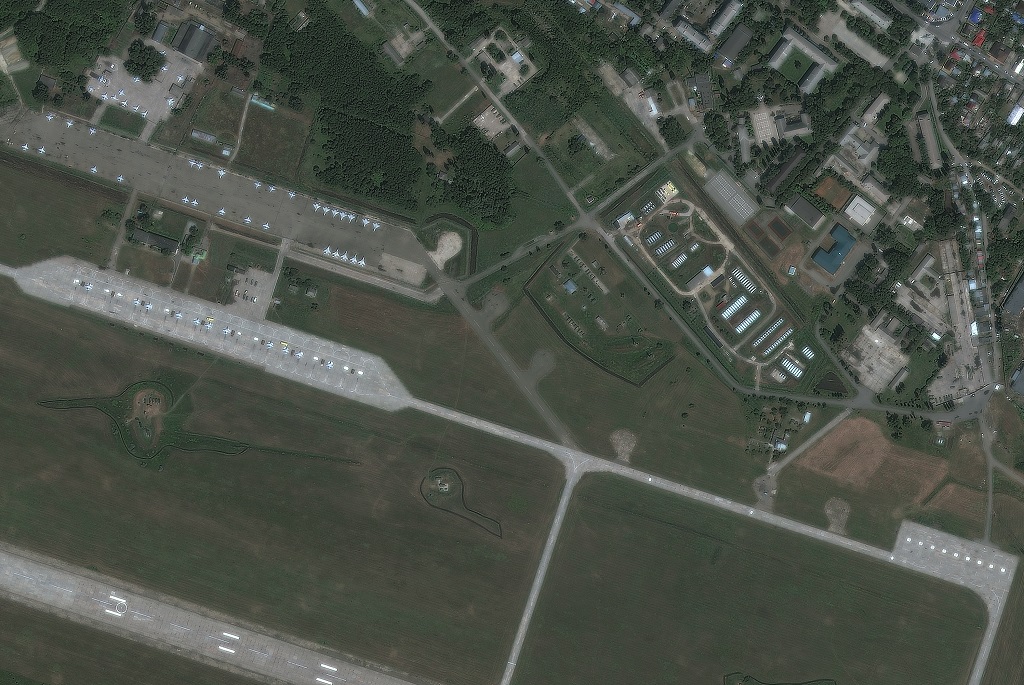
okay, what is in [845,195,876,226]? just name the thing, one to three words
building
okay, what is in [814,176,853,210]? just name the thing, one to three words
sports court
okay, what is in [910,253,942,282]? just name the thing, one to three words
building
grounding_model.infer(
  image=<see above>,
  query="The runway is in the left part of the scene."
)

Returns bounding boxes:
[0,551,417,685]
